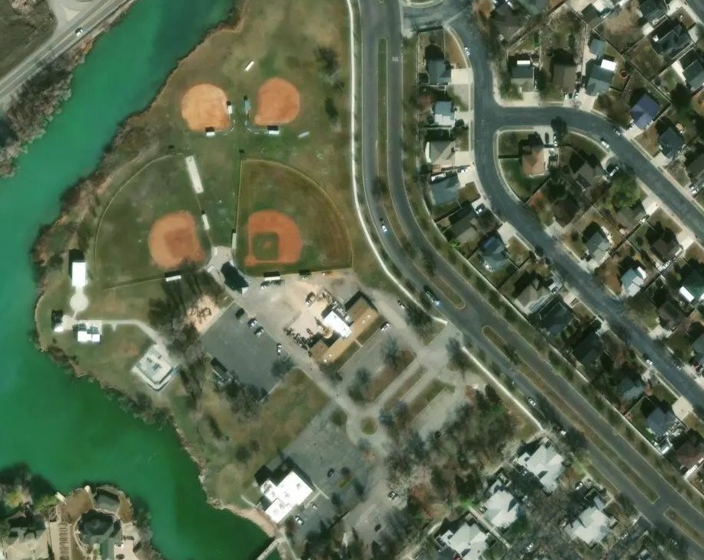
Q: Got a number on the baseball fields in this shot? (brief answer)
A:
4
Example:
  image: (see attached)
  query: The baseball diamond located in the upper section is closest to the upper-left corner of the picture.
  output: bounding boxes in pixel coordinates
[181,82,234,135]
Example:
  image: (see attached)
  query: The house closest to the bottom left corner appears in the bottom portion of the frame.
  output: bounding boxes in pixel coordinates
[7,528,49,560]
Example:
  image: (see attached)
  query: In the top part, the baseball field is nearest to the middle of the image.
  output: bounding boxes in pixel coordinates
[235,160,353,278]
